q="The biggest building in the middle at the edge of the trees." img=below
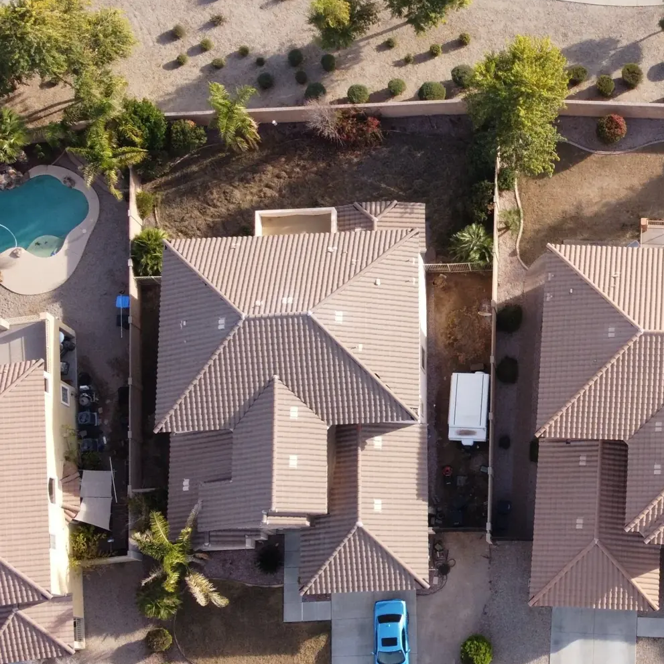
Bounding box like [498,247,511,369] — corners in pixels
[152,197,430,595]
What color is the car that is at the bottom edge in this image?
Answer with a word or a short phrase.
blue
